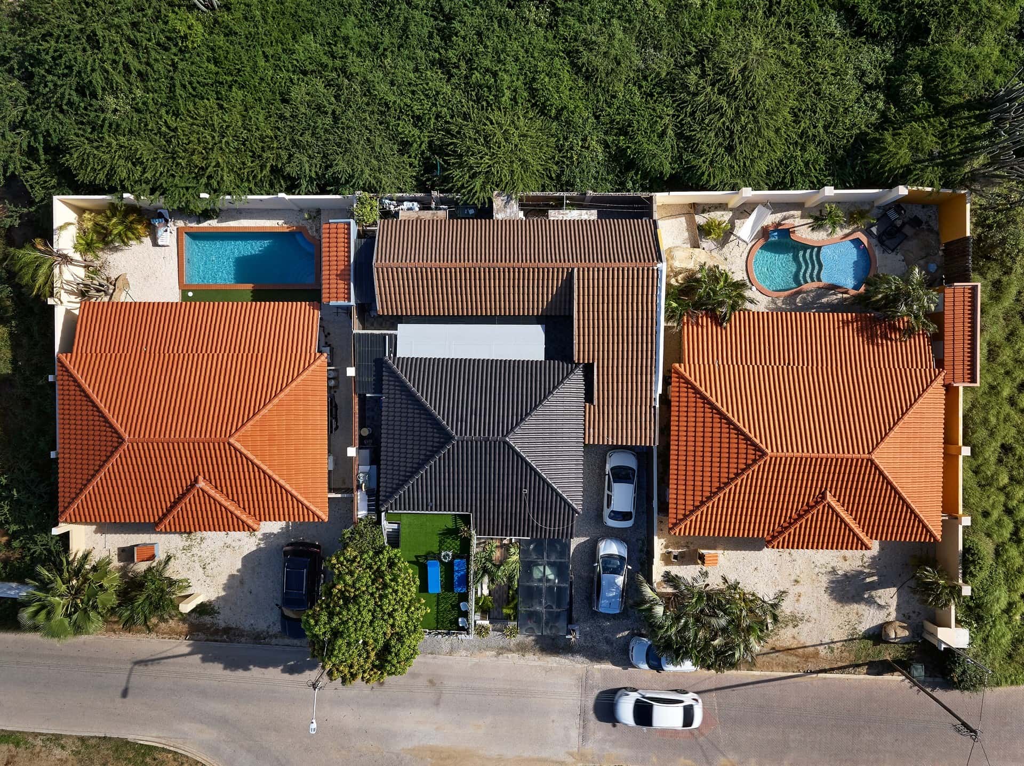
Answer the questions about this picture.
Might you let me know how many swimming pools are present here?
2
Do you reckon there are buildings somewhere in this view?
Yes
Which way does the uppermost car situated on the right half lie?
vertically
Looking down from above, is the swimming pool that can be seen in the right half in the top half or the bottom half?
top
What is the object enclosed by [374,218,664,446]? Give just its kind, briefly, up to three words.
house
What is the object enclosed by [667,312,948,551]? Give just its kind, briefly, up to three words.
house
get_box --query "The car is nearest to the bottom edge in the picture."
[613,688,703,733]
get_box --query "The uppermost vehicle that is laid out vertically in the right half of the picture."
[602,448,641,530]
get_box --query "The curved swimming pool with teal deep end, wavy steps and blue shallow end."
[747,222,877,298]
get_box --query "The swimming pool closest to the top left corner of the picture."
[177,225,321,290]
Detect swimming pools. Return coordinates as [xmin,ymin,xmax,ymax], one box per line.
[177,225,321,290]
[747,222,877,298]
